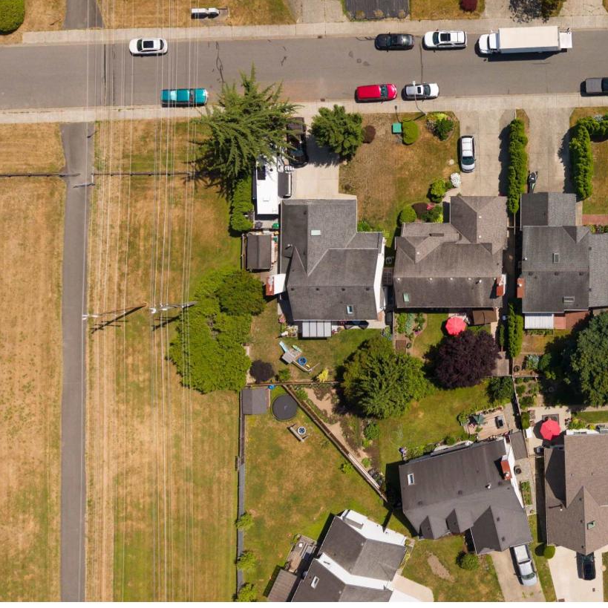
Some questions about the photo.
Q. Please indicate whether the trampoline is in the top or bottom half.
bottom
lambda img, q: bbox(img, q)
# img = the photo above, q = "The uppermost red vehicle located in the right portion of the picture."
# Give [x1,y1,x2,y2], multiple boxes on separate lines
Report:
[356,84,397,102]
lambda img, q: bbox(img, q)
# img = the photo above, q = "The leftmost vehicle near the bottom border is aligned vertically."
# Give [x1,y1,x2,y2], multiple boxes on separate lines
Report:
[514,548,536,587]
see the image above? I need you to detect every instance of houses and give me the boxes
[544,426,608,563]
[516,193,608,314]
[389,196,509,309]
[261,506,411,608]
[265,198,388,323]
[399,435,536,562]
